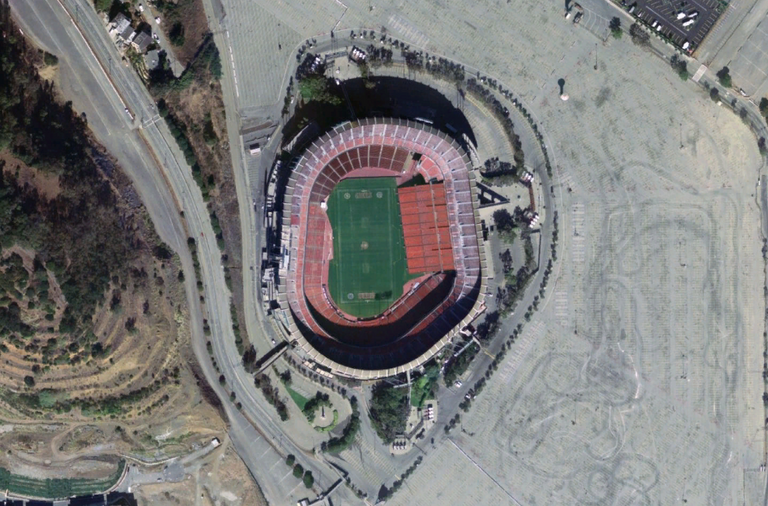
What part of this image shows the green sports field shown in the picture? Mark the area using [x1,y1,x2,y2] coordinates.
[327,177,420,317]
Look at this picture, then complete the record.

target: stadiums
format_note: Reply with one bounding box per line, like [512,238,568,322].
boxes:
[261,80,510,405]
